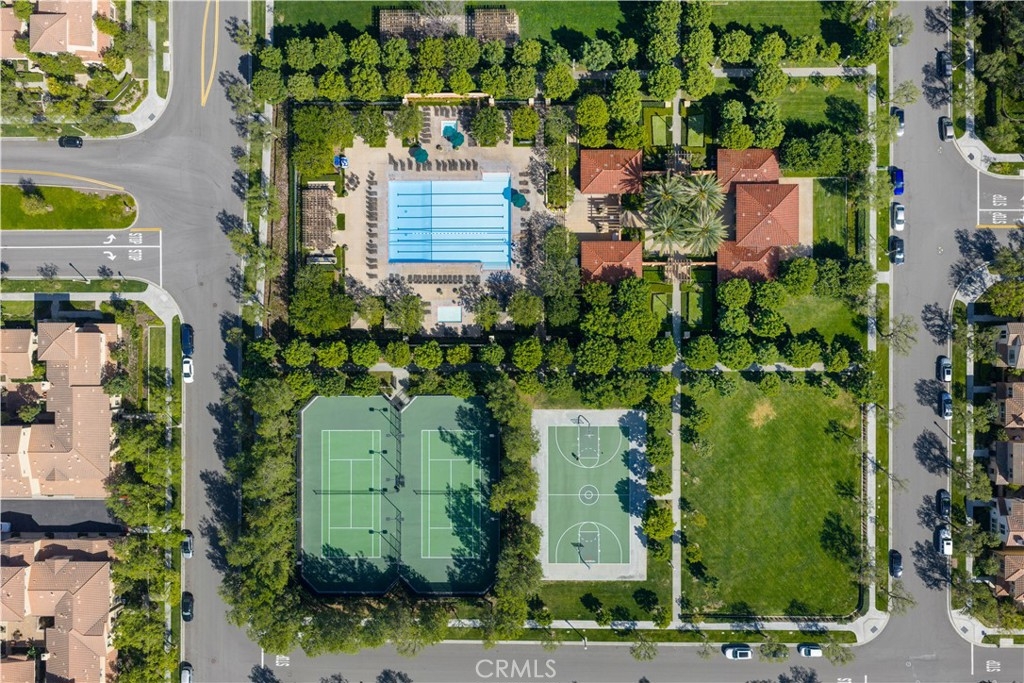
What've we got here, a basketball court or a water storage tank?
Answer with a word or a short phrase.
basketball court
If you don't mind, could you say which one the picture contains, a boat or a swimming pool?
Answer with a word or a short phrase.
swimming pool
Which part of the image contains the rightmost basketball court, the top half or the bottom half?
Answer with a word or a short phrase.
bottom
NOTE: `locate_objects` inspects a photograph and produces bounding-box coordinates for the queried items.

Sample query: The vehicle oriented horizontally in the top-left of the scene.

[56,134,83,147]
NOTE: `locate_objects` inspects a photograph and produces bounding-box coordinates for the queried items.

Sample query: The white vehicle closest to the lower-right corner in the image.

[938,526,954,558]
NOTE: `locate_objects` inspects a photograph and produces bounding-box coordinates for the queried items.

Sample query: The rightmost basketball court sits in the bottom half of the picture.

[532,409,647,580]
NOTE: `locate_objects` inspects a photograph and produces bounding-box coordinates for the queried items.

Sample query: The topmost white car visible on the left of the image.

[180,358,194,383]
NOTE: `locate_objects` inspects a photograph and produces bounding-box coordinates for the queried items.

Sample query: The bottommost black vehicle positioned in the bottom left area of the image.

[180,594,194,620]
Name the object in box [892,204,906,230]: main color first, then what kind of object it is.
white car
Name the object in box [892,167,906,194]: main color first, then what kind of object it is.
blue car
